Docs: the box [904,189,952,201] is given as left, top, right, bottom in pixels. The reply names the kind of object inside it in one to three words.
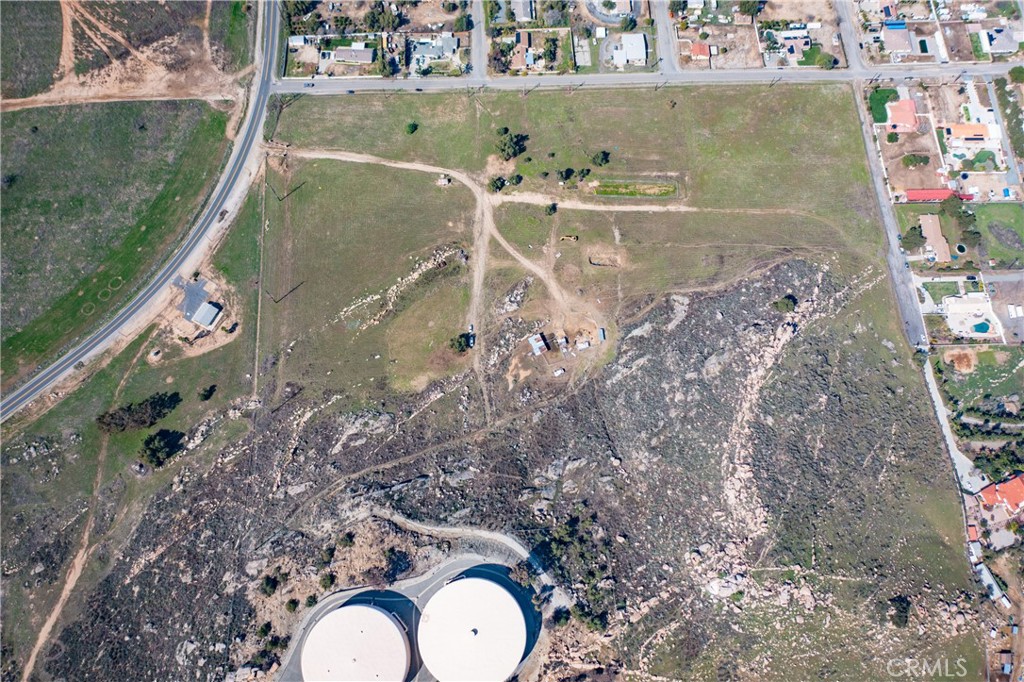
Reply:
building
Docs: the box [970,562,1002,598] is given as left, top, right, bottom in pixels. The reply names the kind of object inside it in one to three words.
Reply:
barn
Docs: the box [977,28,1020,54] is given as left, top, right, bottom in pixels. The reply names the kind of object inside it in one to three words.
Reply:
house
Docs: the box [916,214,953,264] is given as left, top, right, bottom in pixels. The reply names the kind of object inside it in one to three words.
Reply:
house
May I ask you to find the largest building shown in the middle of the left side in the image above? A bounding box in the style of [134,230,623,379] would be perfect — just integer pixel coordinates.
[192,301,222,328]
